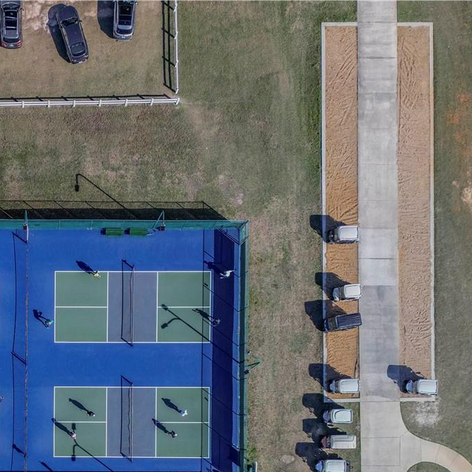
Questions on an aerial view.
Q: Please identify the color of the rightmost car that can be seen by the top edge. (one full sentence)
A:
The rightmost car that can be seen by the top edge is black.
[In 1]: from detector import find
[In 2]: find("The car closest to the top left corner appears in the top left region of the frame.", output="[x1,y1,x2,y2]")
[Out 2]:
[1,0,25,50]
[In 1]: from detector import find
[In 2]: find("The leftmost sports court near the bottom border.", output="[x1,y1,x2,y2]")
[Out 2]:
[53,386,210,458]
